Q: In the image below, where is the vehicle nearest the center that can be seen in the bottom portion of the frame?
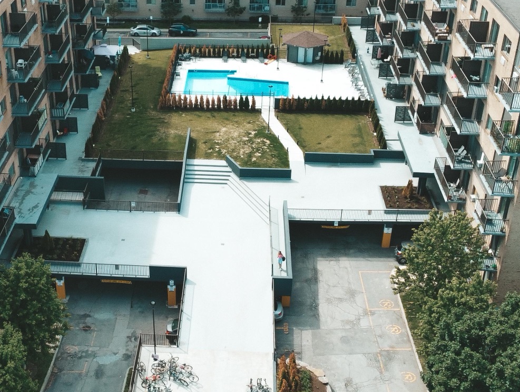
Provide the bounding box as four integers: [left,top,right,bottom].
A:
[271,287,283,320]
